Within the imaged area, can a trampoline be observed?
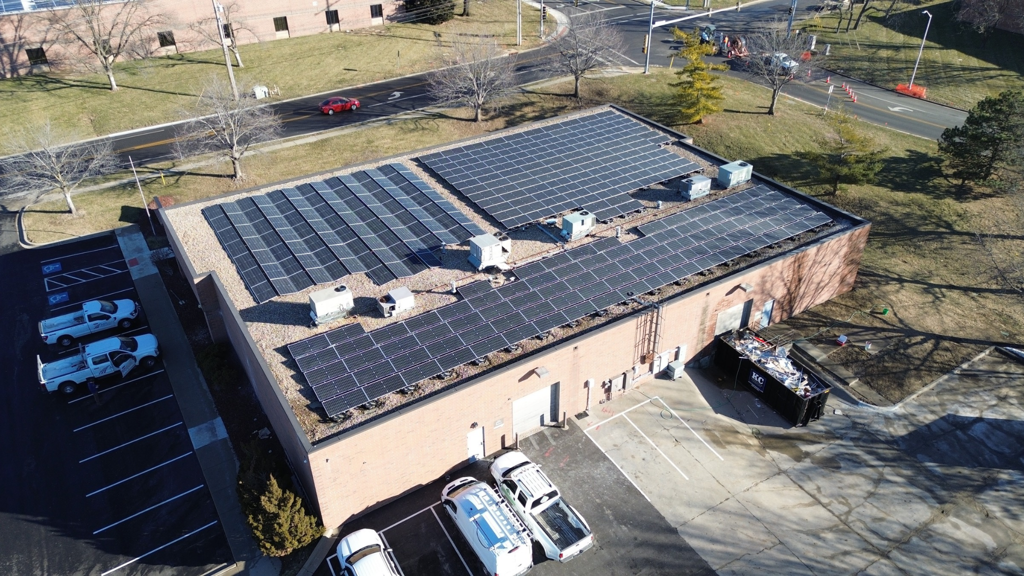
No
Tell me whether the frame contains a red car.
Yes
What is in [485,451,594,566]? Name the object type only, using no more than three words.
truck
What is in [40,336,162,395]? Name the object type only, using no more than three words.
truck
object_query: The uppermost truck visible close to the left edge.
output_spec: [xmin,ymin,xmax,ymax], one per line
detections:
[39,300,140,347]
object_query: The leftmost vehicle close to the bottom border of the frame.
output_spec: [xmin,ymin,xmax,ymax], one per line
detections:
[336,530,402,576]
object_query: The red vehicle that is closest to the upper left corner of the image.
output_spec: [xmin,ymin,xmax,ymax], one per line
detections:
[316,95,361,114]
